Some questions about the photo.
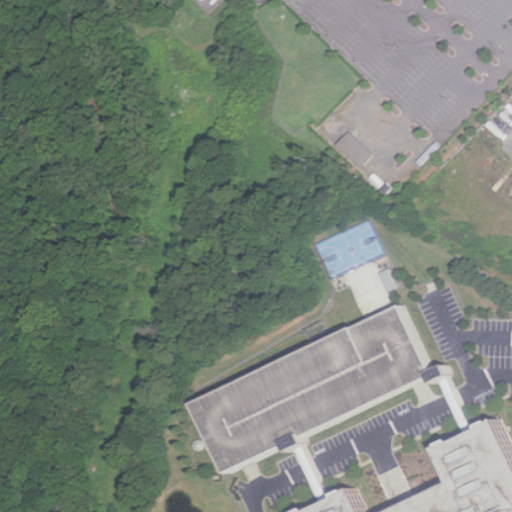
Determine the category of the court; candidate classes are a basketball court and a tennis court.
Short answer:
basketball court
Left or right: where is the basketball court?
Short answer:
right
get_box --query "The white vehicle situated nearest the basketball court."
[368,174,390,192]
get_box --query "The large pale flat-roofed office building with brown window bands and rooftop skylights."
[294,418,512,512]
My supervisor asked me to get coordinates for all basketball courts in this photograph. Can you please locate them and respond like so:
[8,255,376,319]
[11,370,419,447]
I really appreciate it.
[316,220,384,278]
